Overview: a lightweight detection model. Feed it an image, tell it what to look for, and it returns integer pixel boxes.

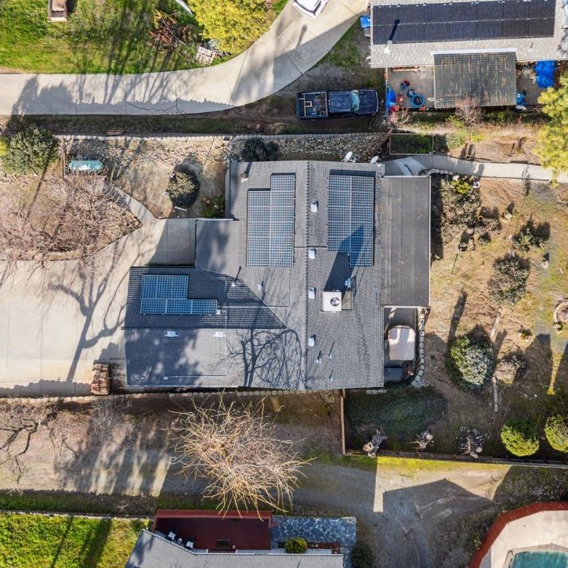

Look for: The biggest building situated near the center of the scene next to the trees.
[119,148,430,394]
